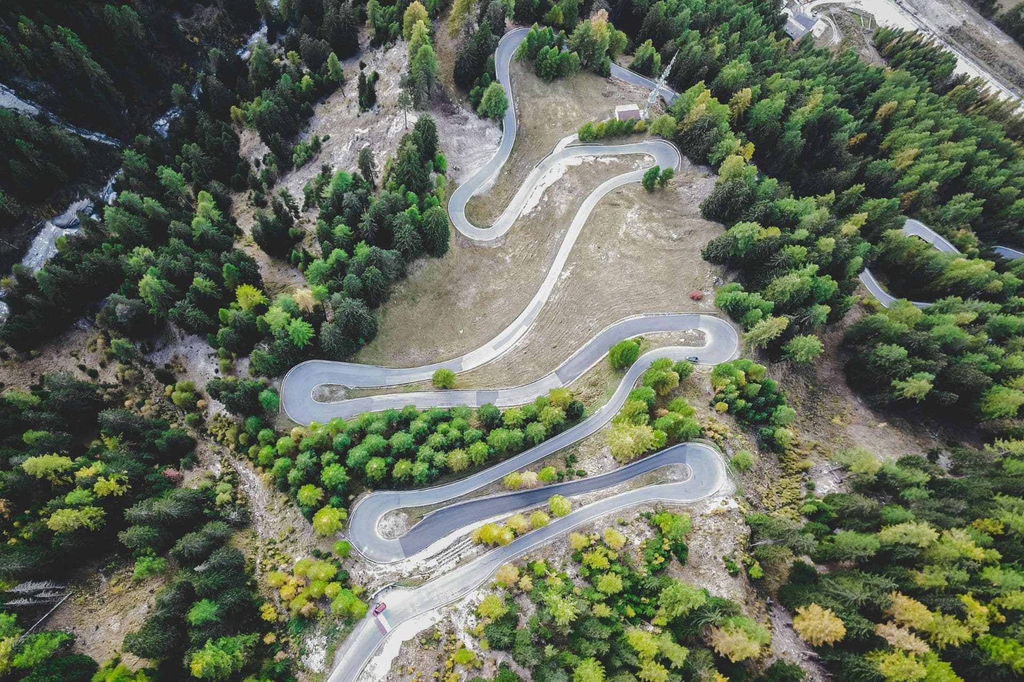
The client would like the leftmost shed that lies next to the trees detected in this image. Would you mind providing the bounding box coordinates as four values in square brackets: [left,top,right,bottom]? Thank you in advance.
[615,104,639,121]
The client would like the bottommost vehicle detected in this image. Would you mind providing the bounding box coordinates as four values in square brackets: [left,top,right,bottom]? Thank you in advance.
[372,603,387,619]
